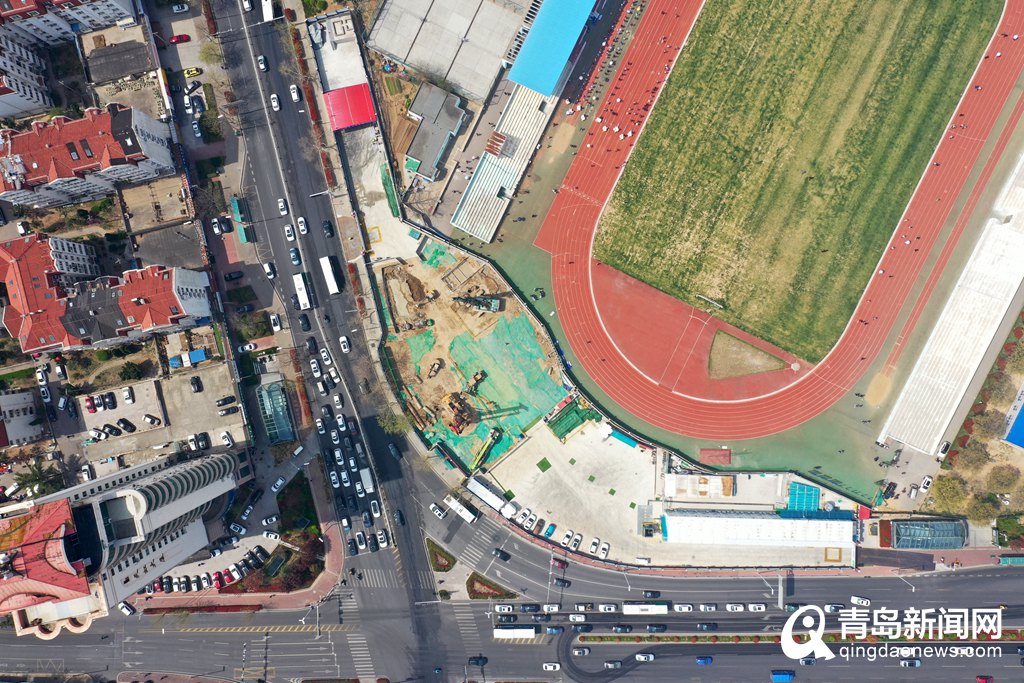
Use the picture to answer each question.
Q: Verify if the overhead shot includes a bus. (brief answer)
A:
Yes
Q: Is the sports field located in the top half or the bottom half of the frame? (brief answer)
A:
top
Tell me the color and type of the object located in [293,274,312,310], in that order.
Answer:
white vehicle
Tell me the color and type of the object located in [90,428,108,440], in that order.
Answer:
white vehicle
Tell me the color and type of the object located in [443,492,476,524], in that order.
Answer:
white bus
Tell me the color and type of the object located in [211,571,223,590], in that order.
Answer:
red vehicle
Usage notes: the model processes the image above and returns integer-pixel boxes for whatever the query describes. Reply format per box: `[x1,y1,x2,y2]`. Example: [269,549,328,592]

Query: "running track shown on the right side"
[533,0,1024,440]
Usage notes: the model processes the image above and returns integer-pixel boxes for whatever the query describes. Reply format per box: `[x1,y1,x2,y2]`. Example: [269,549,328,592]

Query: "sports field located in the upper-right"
[592,0,1004,366]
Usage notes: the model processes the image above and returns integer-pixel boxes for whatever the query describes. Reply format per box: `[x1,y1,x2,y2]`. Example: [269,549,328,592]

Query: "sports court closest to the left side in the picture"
[368,0,431,60]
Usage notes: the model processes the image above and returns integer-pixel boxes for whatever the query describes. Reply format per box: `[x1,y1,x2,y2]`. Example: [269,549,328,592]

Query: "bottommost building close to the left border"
[0,444,262,638]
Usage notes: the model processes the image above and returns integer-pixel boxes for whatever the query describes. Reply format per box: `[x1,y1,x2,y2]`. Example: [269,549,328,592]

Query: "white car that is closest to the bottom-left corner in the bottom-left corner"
[117,601,135,617]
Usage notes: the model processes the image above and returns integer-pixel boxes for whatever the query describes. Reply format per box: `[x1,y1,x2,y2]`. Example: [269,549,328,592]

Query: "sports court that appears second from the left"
[407,0,481,81]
